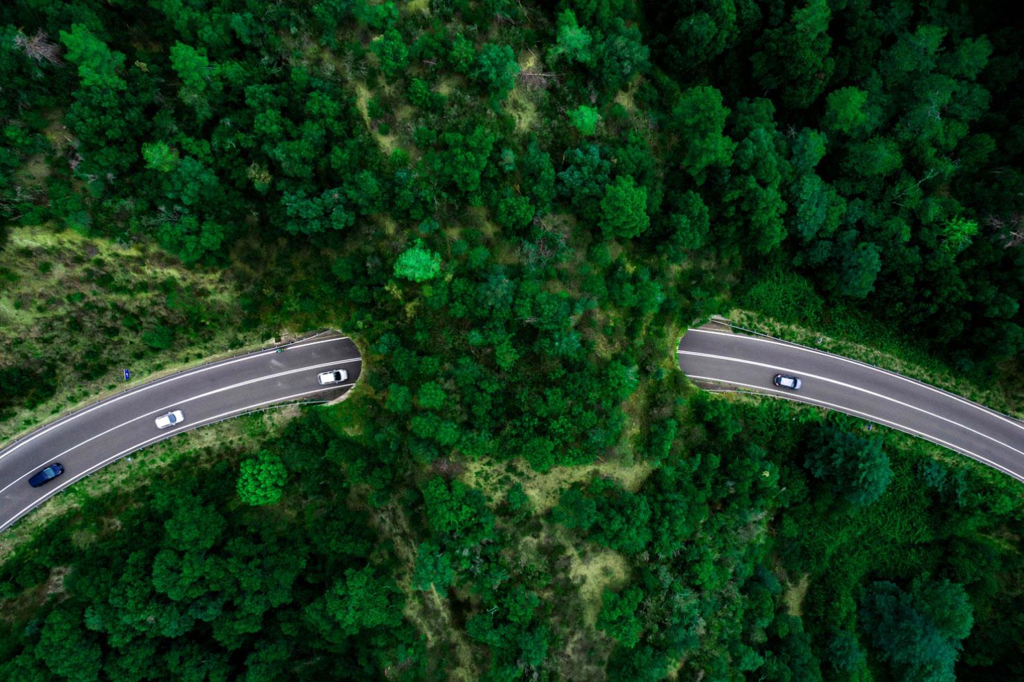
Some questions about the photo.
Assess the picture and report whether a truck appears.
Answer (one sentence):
No, there isn't any truck down there.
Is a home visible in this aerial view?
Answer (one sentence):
No, this view has no home in it.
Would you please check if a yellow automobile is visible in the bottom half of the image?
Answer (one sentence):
No, the scene shows no yellow automobile in the bottom half of the image.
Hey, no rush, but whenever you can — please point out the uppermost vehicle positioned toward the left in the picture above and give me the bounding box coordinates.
[317,369,347,385]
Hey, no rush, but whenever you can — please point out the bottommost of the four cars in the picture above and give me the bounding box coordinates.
[27,464,61,488]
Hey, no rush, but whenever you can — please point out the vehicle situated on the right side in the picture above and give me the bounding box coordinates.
[775,374,803,390]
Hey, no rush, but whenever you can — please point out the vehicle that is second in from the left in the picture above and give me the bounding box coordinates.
[152,410,182,428]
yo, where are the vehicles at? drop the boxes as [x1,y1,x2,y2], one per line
[775,374,803,390]
[152,410,182,428]
[317,369,347,385]
[27,464,61,488]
